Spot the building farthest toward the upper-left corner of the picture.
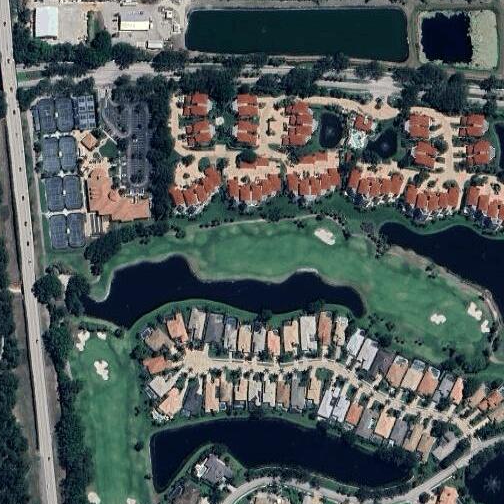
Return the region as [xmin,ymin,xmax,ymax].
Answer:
[35,6,57,37]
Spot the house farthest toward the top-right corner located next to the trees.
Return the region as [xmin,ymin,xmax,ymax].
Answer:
[459,113,488,137]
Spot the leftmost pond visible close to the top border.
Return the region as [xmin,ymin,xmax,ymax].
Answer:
[185,7,408,61]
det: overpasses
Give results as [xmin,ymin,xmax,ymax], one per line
[0,54,52,449]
